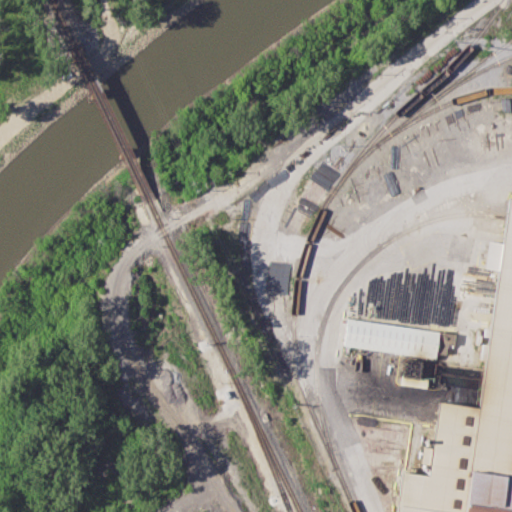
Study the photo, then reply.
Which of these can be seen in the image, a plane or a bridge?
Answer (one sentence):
I can see a bridge in this picture.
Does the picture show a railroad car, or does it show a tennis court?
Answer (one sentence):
Looking from above, you can make out a railroad car.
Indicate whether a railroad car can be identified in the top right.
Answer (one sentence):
Yes, a railroad car appears in the top right.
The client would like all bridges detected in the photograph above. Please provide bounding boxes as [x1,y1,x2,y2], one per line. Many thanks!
[88,80,162,207]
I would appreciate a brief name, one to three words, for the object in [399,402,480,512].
building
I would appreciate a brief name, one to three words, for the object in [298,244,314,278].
rail car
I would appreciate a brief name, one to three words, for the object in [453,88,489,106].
rail car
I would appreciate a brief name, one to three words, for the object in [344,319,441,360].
shed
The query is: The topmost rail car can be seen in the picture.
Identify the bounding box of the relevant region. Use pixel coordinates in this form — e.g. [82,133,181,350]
[448,45,474,74]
